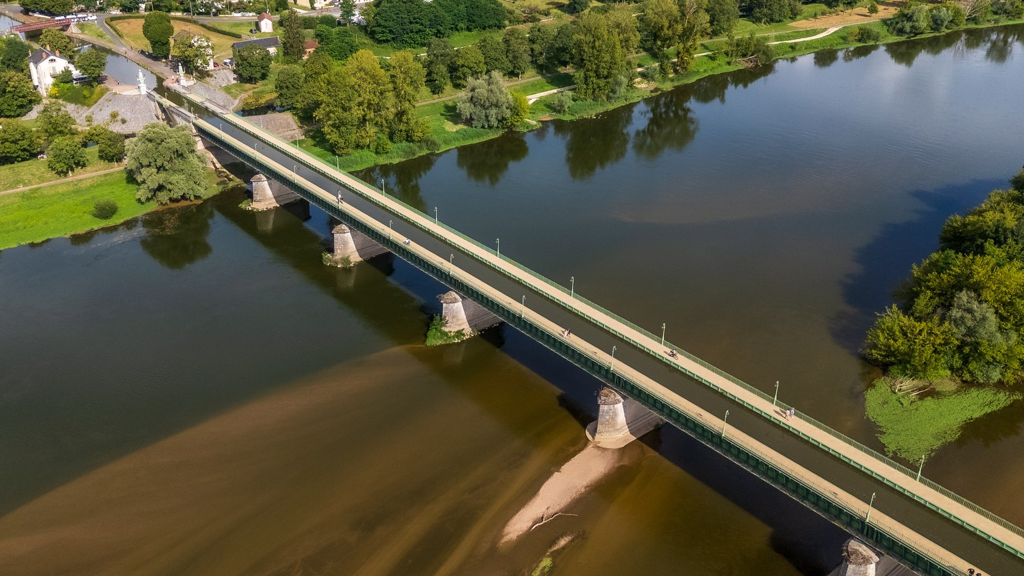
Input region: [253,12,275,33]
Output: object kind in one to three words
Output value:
building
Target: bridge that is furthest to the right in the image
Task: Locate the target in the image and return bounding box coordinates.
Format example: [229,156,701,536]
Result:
[153,88,1024,576]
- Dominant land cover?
water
